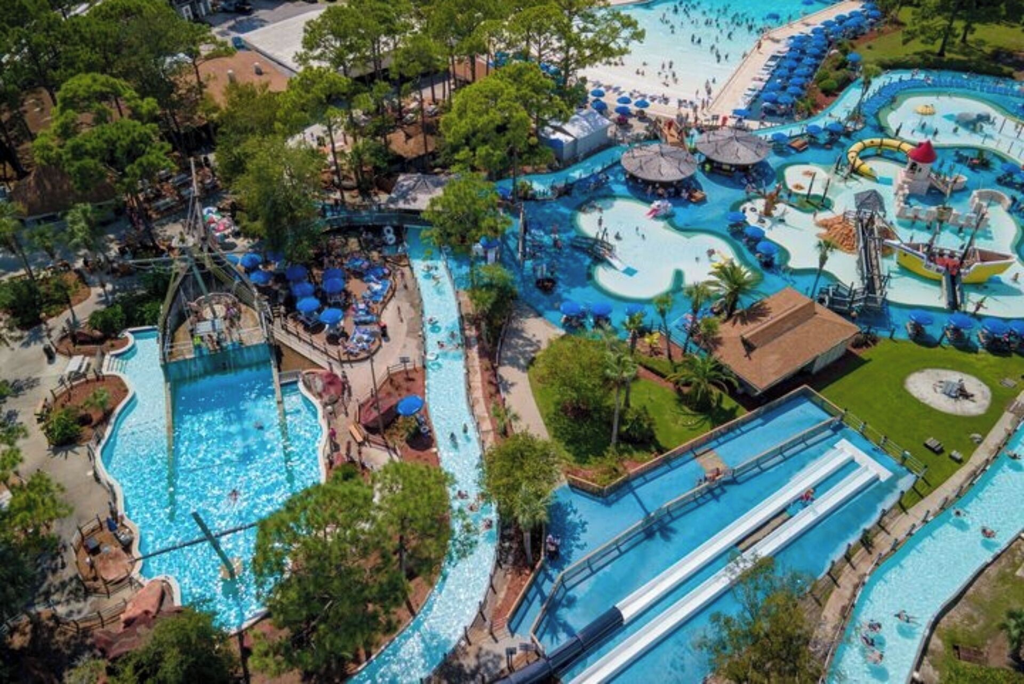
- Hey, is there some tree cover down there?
Yes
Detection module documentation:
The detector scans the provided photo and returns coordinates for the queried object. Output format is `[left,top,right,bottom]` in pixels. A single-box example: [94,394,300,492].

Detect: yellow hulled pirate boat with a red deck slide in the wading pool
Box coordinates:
[894,211,1024,309]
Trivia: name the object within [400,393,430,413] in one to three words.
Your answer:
umbrella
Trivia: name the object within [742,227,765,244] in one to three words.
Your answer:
umbrella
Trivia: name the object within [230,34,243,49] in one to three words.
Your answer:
vehicle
